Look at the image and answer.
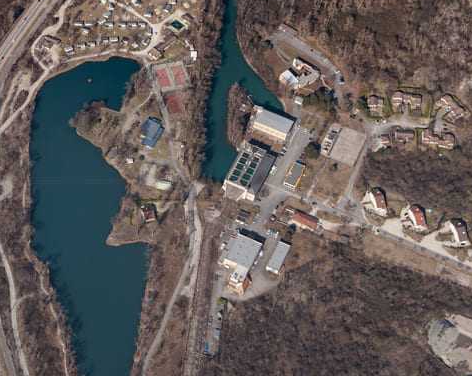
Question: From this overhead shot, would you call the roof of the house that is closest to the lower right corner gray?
Yes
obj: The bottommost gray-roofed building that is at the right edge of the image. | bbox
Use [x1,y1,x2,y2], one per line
[449,220,470,248]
